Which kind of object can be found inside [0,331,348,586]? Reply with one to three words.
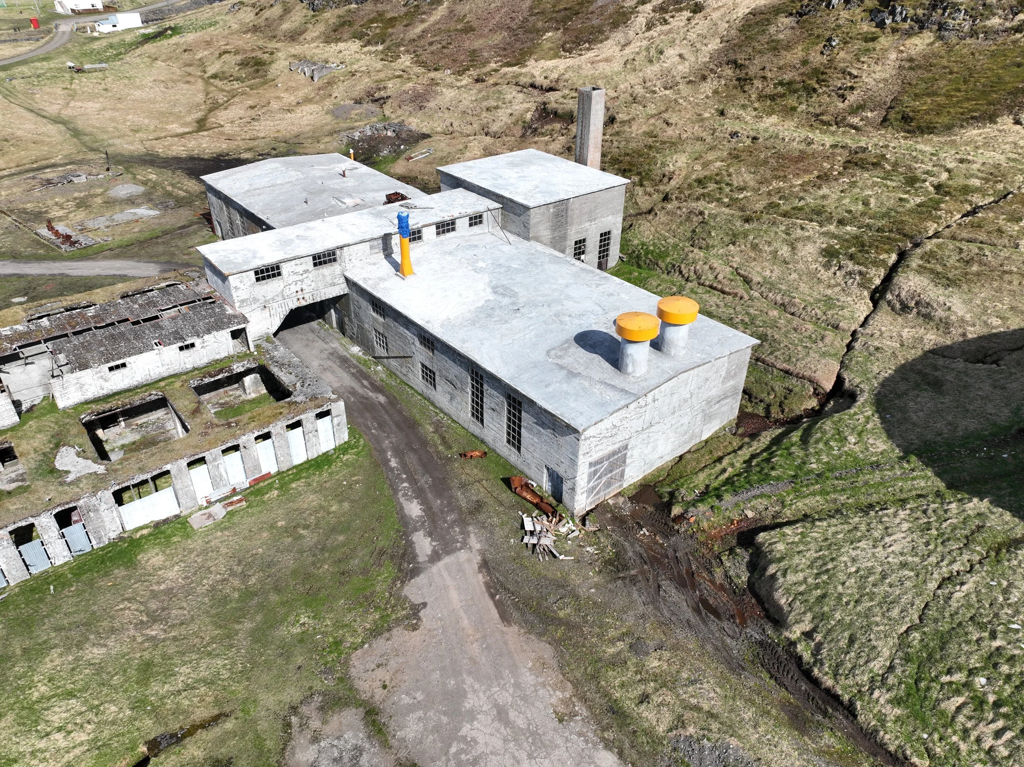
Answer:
building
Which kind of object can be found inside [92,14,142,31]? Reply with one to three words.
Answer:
house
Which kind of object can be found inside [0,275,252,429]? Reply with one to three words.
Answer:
shed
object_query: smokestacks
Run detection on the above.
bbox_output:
[574,86,606,172]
